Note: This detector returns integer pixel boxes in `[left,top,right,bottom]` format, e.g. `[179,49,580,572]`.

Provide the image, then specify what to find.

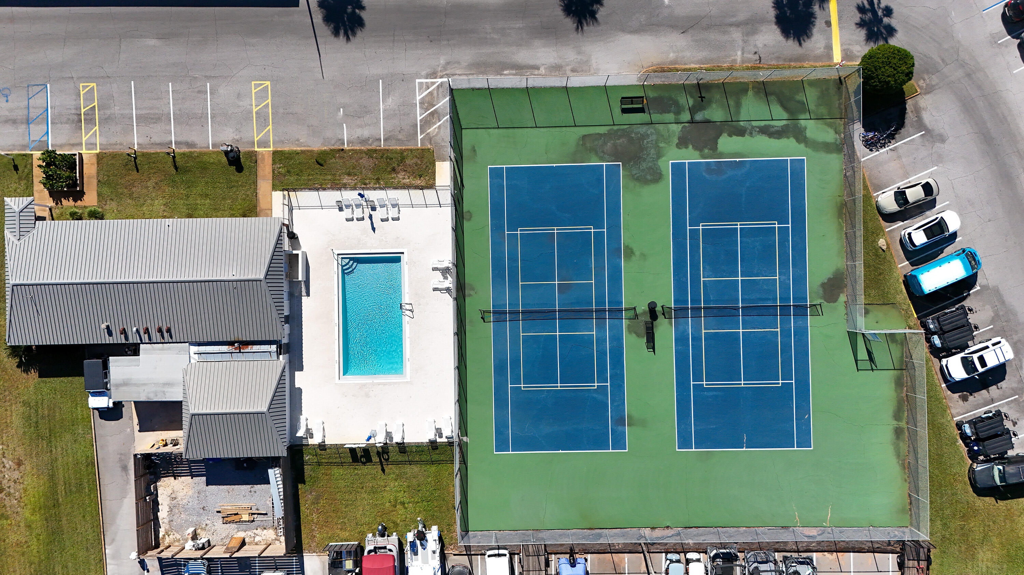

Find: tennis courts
[670,156,813,452]
[488,162,628,454]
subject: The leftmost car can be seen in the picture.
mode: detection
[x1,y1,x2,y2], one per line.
[82,357,116,410]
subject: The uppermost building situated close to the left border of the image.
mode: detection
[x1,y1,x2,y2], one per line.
[0,196,290,345]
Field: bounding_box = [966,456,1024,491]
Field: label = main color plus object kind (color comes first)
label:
black car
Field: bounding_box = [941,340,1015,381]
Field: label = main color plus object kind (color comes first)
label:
white car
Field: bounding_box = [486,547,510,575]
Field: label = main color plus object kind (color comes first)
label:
white vehicle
